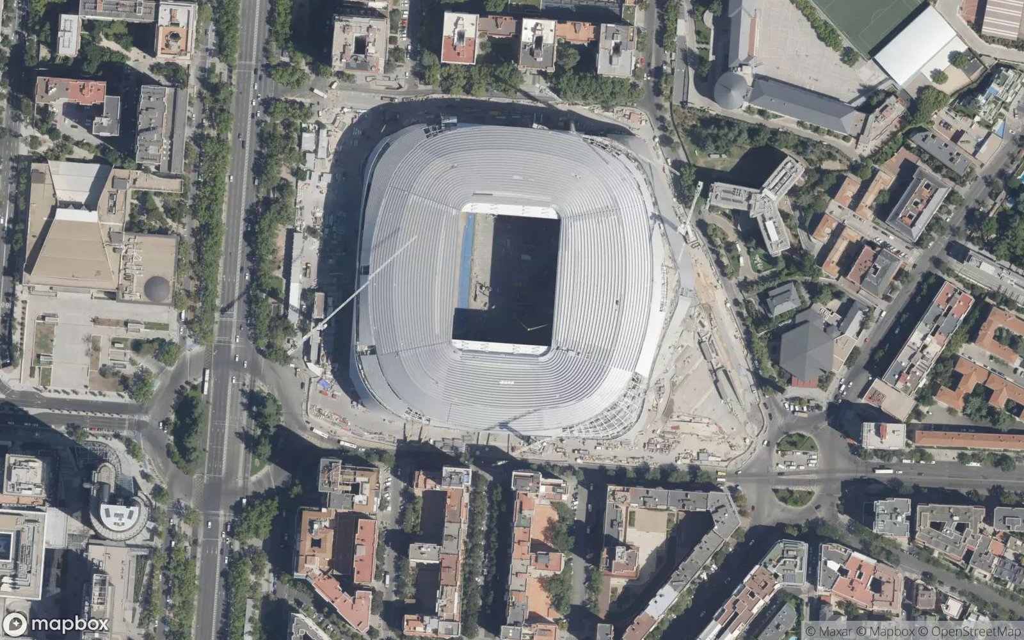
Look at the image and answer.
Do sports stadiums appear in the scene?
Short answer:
Yes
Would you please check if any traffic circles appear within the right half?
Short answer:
Yes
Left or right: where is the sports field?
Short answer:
right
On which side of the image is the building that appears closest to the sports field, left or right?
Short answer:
right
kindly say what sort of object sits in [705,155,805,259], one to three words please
building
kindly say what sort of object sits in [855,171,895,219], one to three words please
house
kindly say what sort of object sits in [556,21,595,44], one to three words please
building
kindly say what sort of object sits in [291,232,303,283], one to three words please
shed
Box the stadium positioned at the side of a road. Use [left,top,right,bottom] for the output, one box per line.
[351,117,665,442]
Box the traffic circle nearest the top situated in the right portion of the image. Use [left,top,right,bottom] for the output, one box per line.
[771,432,819,508]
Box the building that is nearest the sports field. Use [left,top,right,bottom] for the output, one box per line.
[872,6,956,86]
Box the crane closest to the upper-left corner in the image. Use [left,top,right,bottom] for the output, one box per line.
[287,235,417,354]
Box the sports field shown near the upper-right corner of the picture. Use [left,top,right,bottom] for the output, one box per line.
[812,0,930,58]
